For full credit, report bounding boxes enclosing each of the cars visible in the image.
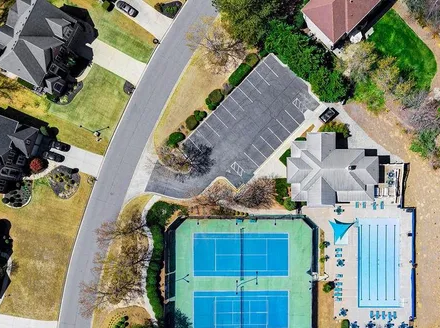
[41,150,62,162]
[116,0,136,16]
[47,141,68,152]
[319,107,336,122]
